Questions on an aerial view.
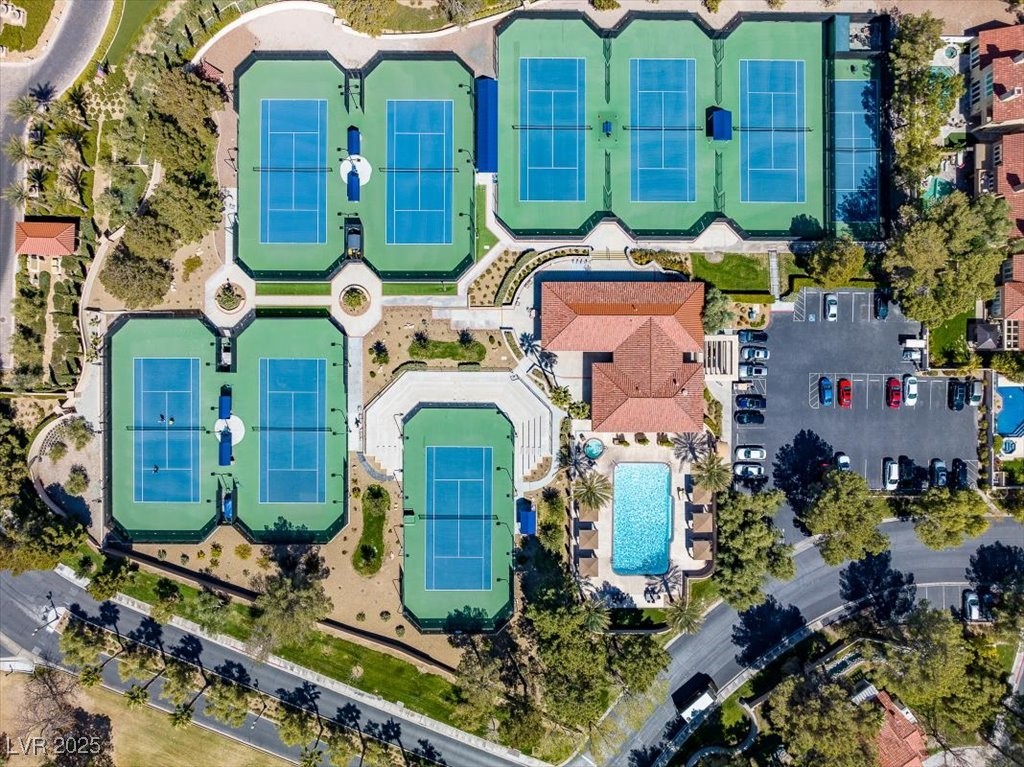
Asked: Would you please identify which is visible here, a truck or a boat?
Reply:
truck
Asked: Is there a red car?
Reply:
Yes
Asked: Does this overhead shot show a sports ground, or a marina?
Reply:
sports ground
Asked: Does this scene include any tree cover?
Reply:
Yes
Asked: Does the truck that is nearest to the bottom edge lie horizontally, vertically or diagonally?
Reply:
diagonally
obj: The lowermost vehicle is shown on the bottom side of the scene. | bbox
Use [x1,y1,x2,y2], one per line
[678,677,721,724]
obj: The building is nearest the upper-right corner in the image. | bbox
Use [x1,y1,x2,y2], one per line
[969,24,1024,74]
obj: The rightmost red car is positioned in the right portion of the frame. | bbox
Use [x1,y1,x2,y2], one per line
[885,378,901,407]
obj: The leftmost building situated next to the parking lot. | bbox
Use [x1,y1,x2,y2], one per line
[541,281,705,432]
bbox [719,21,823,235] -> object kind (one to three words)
tennis court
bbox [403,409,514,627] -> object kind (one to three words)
tennis court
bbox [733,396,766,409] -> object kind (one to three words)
vehicle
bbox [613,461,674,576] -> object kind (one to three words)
swimming pool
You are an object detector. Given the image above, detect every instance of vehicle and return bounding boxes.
[740,348,768,360]
[951,460,968,488]
[837,380,852,408]
[823,294,838,322]
[738,364,766,377]
[912,466,929,495]
[980,589,995,622]
[965,379,982,407]
[947,378,967,410]
[930,458,946,489]
[963,590,981,620]
[872,291,889,320]
[902,377,918,406]
[733,411,763,425]
[733,396,766,409]
[735,447,765,461]
[897,458,915,489]
[818,378,833,406]
[678,677,721,724]
[733,464,763,477]
[885,378,901,407]
[882,460,899,489]
[737,330,767,344]
[835,453,851,482]
[736,382,750,391]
